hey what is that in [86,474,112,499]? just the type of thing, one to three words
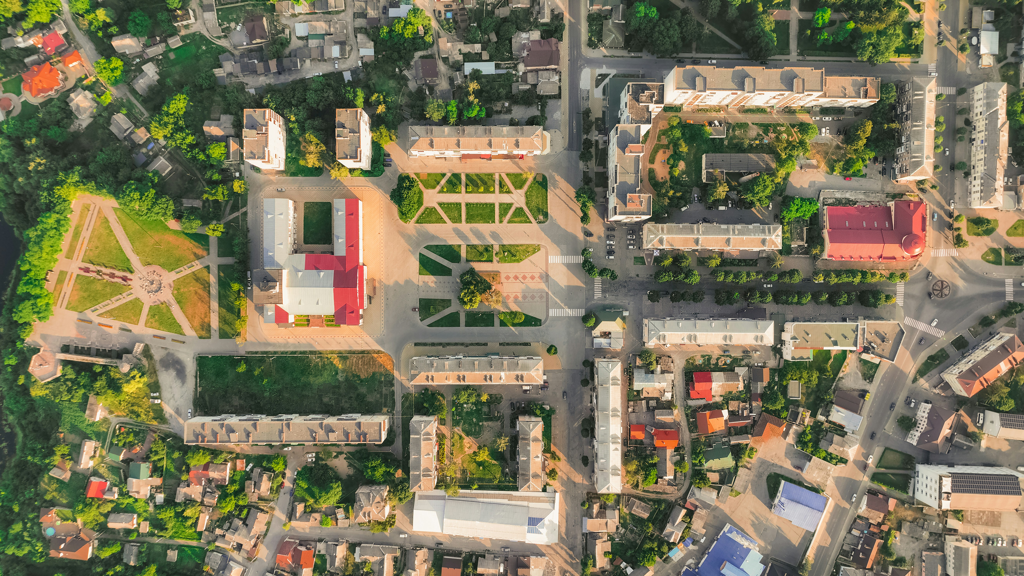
house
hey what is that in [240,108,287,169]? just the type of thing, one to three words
building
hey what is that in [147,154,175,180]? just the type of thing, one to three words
shed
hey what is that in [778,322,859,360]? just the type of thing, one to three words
building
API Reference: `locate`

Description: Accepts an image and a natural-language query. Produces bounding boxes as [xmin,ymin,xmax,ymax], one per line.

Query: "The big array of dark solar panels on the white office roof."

[950,474,1020,495]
